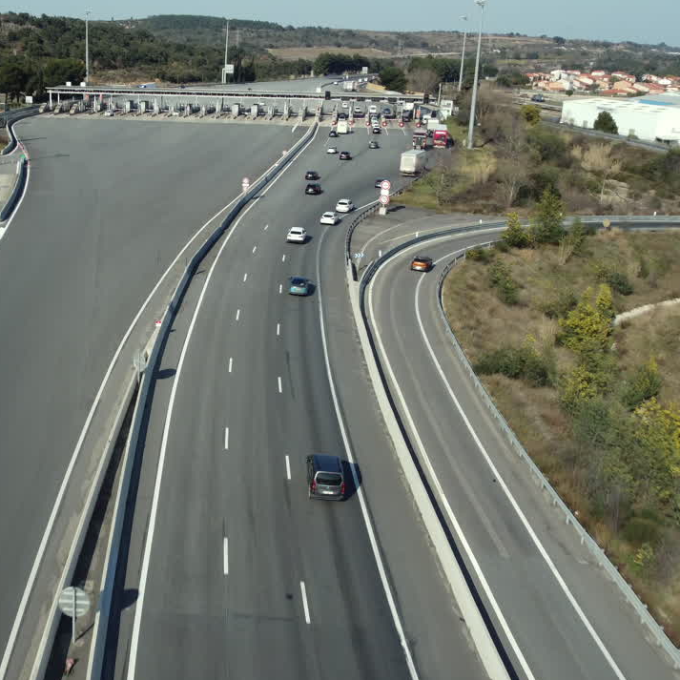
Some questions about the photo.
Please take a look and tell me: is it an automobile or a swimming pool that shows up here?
automobile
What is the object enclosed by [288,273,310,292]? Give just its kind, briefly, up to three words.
car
